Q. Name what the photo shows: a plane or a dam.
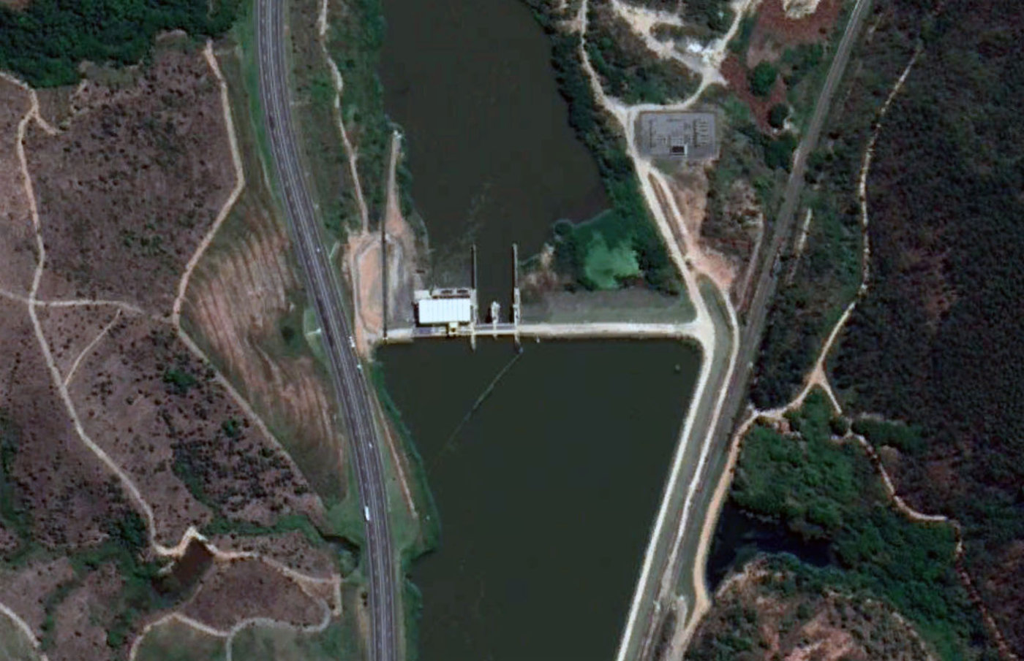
dam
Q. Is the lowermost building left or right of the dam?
to its left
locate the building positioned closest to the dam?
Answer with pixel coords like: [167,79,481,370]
[414,289,471,337]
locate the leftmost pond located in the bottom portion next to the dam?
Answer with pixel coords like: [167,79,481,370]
[377,333,700,661]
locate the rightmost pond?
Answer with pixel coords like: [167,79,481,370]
[707,504,839,593]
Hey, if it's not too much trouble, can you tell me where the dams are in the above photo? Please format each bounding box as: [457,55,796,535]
[471,245,701,350]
